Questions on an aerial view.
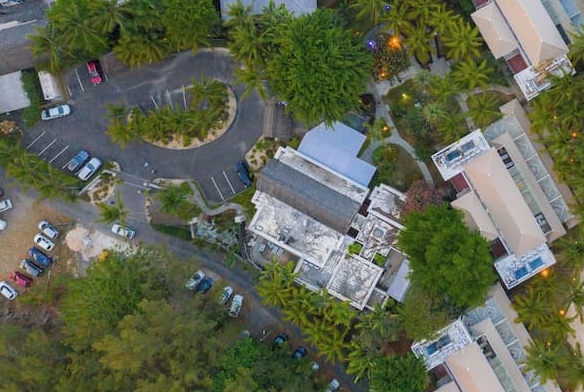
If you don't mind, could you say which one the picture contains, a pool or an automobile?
automobile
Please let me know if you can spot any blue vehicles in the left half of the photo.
Yes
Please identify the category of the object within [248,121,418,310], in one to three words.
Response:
building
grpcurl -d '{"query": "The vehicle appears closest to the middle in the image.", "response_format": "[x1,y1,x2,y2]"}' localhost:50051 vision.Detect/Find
[232,159,251,187]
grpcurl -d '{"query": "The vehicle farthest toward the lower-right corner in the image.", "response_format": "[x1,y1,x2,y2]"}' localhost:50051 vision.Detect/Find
[321,378,341,392]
